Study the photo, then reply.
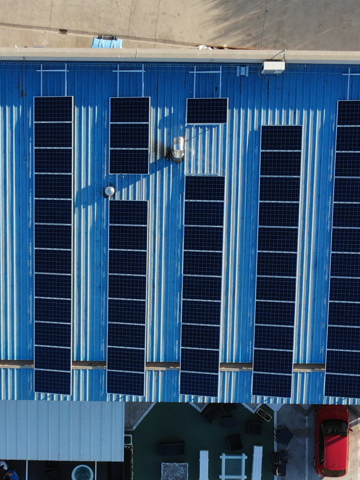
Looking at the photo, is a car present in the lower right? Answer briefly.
Yes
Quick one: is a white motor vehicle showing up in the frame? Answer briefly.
No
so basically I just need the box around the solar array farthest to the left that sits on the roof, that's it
[33,62,73,393]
